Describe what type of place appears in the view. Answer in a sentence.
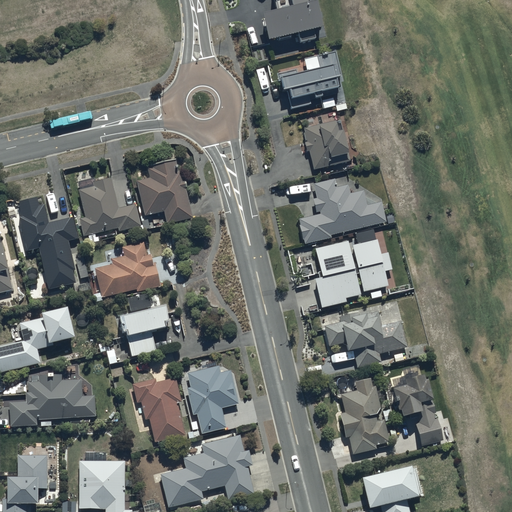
It's a residential area.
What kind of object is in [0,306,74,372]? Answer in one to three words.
house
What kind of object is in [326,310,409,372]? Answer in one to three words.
house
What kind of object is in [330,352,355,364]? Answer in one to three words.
vehicle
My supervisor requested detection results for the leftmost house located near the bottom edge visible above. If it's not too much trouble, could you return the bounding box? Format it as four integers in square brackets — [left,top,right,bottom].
[1,455,48,512]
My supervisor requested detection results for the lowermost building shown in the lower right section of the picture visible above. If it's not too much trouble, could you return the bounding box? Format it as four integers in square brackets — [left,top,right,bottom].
[364,466,421,512]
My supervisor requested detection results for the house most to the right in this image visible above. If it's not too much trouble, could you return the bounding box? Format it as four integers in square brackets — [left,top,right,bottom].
[394,375,444,448]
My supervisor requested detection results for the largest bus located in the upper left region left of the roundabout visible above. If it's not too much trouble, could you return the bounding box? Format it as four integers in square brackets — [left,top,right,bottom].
[49,108,94,129]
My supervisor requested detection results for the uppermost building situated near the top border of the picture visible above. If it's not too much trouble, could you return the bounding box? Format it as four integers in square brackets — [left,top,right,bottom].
[265,0,324,42]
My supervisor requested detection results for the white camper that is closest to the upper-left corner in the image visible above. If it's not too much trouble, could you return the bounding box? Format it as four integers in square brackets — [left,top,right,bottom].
[46,190,58,213]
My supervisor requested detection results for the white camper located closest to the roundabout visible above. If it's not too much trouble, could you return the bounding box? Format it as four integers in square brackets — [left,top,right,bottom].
[256,66,270,94]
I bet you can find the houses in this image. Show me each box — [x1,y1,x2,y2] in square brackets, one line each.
[18,196,78,290]
[136,159,190,222]
[95,242,161,296]
[0,238,12,294]
[133,378,188,442]
[340,378,392,453]
[118,304,169,357]
[326,310,409,372]
[300,178,388,244]
[265,0,324,42]
[0,306,74,372]
[364,466,421,512]
[278,50,342,109]
[8,374,96,428]
[160,435,254,509]
[78,176,140,238]
[394,375,444,448]
[1,455,48,512]
[304,121,352,170]
[188,366,238,434]
[78,461,125,512]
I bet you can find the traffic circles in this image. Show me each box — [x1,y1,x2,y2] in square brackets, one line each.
[160,56,242,148]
